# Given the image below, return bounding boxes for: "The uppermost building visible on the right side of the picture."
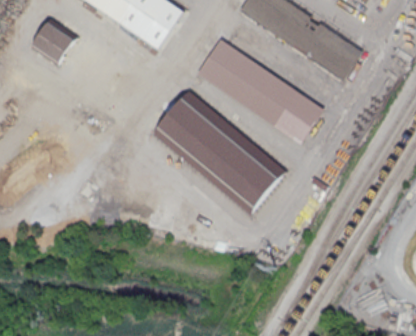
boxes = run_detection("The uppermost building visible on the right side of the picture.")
[242,0,362,81]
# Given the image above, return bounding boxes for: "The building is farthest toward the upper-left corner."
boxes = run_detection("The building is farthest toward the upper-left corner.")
[32,17,78,66]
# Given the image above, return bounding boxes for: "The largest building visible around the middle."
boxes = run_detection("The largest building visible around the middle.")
[154,89,286,215]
